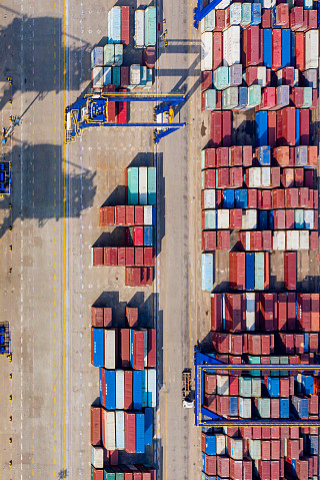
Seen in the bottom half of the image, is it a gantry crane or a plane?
gantry crane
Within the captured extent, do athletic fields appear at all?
No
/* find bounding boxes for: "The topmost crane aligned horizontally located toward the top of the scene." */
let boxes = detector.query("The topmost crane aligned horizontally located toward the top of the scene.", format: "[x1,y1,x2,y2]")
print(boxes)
[65,91,188,145]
